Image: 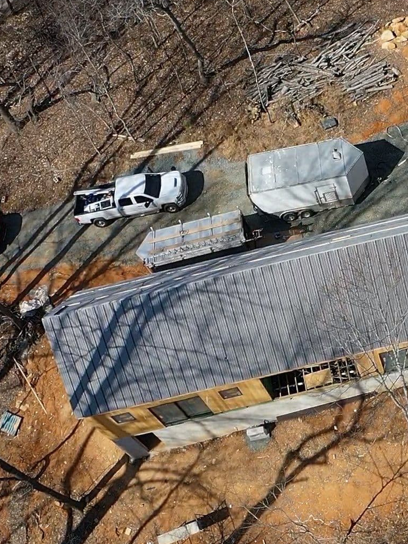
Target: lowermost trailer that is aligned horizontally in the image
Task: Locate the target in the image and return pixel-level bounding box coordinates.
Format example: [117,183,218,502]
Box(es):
[142,204,276,273]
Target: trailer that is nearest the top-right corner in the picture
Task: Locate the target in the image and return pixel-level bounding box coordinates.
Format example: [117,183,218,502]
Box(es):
[247,137,391,222]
